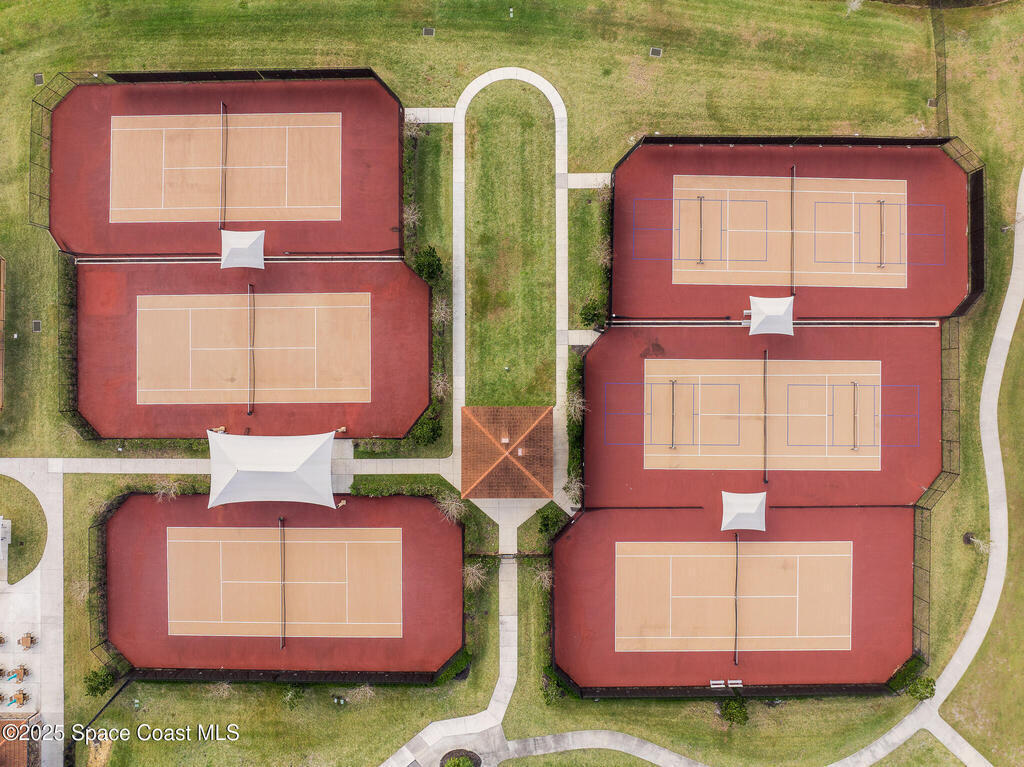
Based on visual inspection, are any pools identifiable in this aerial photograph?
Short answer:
No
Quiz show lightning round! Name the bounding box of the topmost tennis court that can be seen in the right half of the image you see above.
[609,145,968,321]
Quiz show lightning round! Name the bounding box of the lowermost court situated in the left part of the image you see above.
[106,494,461,671]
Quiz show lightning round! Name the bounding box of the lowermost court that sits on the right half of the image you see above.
[554,507,914,686]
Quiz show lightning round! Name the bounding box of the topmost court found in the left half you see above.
[49,80,401,258]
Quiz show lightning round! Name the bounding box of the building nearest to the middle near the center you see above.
[461,406,554,500]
